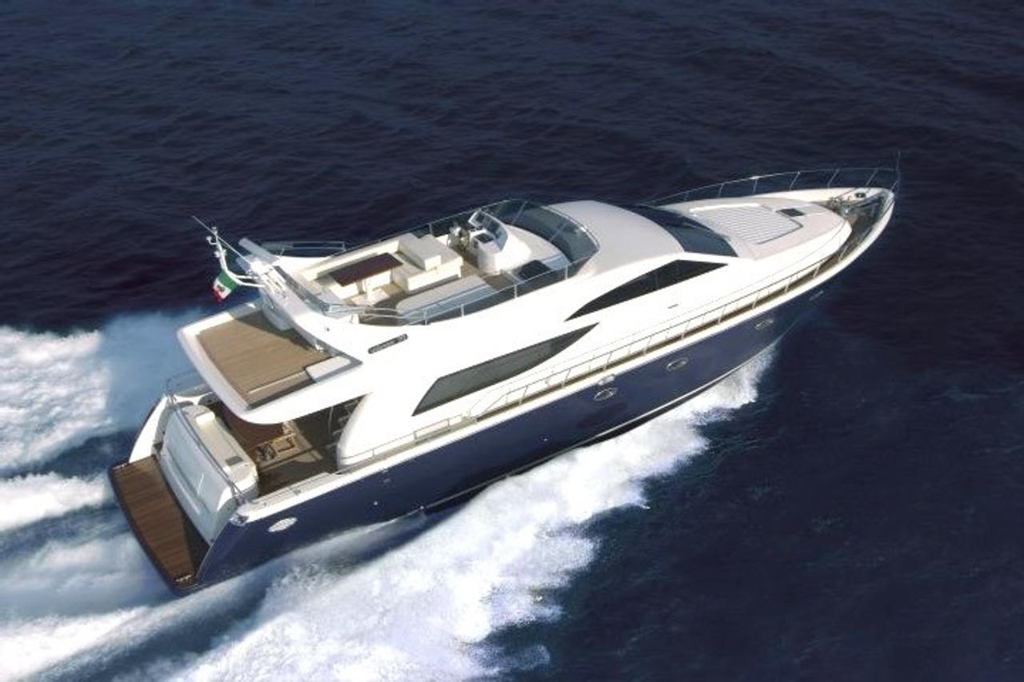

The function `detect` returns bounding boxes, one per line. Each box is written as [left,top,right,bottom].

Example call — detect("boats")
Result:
[113,150,905,600]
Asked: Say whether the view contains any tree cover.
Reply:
No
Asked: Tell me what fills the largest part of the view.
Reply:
water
